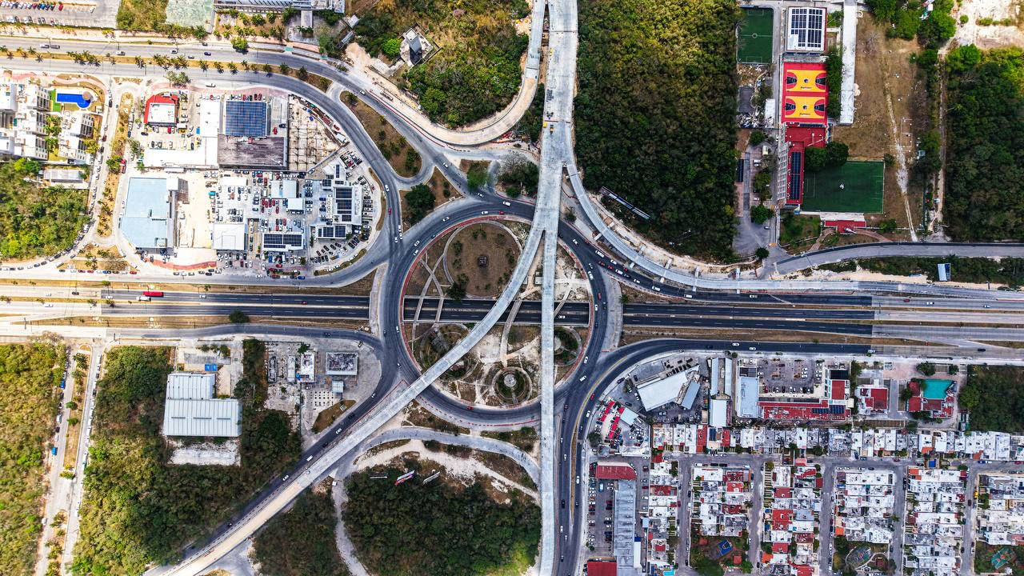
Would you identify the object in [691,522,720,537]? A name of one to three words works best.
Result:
house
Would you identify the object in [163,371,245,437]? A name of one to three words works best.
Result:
building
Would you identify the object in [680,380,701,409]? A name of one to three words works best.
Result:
shed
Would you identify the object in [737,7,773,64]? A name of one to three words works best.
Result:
soccer field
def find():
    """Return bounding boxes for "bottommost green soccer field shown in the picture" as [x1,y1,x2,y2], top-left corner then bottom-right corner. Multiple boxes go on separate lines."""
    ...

[801,162,884,213]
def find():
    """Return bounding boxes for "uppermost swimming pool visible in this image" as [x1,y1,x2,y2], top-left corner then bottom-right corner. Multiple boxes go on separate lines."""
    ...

[56,92,92,110]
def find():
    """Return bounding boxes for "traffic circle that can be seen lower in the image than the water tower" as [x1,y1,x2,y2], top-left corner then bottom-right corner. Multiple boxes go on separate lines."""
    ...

[385,200,607,422]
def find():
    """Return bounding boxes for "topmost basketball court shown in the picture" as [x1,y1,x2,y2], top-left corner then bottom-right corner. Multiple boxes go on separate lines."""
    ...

[786,70,828,92]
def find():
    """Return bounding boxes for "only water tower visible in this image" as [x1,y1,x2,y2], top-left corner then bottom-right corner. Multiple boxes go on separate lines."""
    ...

[403,27,423,57]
